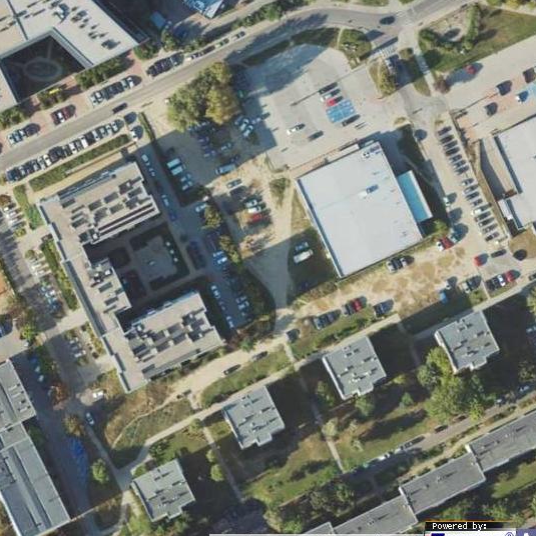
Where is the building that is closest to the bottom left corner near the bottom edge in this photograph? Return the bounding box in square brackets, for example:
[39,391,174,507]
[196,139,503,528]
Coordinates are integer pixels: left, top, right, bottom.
[0,437,72,536]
